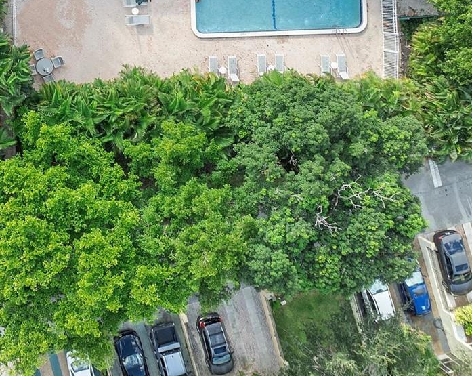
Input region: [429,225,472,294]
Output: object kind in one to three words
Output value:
car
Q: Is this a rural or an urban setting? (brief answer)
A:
rural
